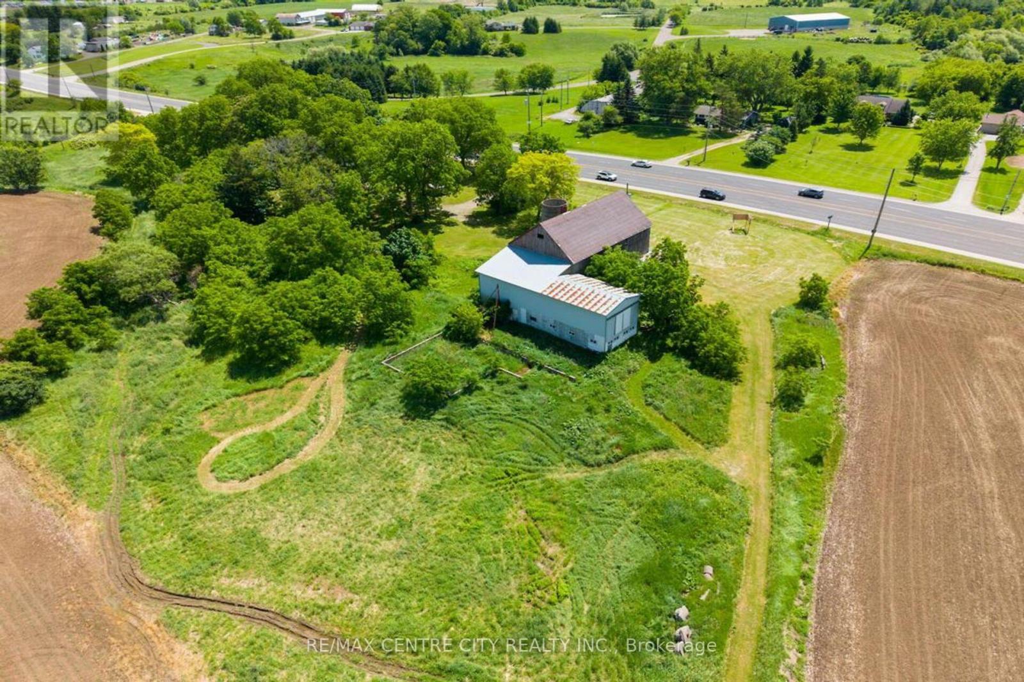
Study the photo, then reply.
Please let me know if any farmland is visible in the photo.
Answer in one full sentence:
Yes, the picture does contain farmland.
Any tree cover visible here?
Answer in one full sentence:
Yes, there is tree cover in the image.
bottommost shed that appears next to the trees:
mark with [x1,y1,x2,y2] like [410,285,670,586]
[474,244,642,353]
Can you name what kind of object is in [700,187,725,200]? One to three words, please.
vehicle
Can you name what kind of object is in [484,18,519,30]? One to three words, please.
house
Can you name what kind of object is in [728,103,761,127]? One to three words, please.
shed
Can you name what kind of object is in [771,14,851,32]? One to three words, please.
building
